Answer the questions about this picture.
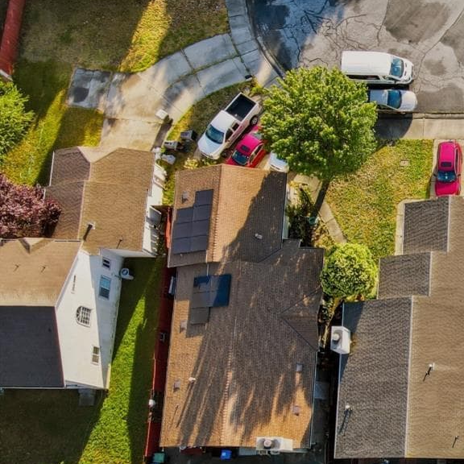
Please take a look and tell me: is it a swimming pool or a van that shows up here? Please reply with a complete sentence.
Of the two, only a van appears.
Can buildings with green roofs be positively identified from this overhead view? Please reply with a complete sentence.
No, the scene contains no building with a green roof.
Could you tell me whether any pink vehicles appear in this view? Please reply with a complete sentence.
Yes, the photo shows a pink vehicle.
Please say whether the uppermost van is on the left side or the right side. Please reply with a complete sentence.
The uppermost van is on the right side of the image.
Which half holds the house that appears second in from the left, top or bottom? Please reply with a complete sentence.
The bottom half of the photo is where the house that appears second in from the left is.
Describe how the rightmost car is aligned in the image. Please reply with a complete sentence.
The rightmost car is oriented vertically.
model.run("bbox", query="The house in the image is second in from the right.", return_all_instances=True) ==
[159,164,329,450]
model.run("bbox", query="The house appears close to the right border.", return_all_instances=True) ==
[331,196,464,459]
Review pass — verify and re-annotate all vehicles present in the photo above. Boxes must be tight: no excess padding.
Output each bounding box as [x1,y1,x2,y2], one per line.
[434,143,460,192]
[338,48,412,84]
[200,91,263,158]
[366,87,421,115]
[228,118,274,166]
